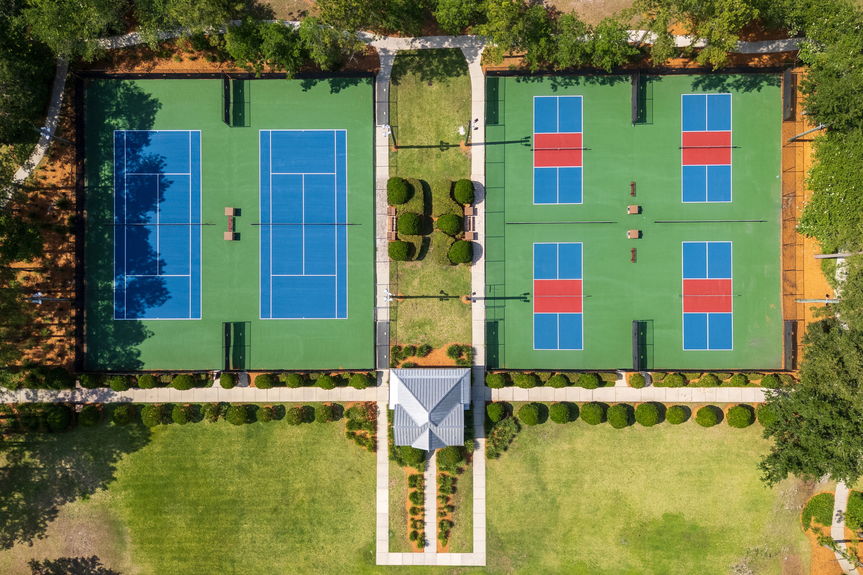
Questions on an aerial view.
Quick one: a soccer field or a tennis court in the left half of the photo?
tennis court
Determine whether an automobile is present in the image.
No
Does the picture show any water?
No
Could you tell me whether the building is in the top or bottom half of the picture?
bottom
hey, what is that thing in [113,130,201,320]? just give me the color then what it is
blue tennis court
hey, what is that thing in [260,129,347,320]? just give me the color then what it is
blue tennis court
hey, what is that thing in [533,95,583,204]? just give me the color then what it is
blue sports court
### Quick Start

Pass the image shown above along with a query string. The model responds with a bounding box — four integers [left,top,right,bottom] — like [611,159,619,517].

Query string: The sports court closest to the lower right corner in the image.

[683,241,733,351]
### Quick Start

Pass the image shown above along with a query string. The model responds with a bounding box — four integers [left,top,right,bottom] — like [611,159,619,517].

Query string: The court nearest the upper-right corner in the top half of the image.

[682,94,732,202]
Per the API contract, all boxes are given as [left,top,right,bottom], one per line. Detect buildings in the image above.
[388,368,470,451]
